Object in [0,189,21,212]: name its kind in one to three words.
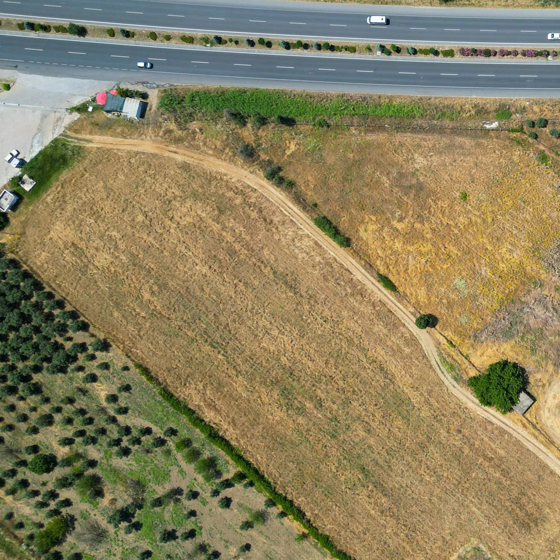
shed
